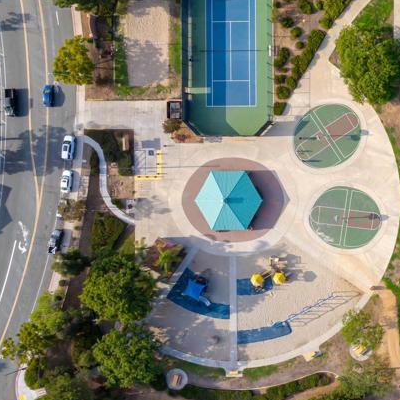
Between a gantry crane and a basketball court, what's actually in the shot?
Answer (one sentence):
There is a basketball court in the scene.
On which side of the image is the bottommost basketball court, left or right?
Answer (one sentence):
The bottommost basketball court sits on the right side.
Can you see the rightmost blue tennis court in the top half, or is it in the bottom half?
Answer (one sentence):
The rightmost blue tennis court sits in the top half of the picture.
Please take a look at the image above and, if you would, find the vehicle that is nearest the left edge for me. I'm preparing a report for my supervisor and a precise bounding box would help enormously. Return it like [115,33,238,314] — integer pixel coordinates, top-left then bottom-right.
[3,89,18,115]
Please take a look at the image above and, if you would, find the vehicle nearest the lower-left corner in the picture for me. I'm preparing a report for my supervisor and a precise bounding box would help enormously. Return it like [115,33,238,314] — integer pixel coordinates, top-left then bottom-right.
[47,229,65,256]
